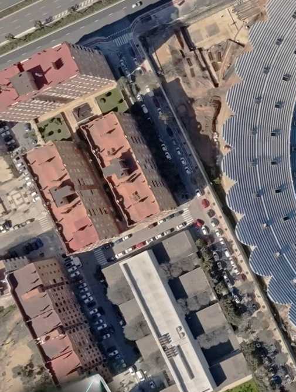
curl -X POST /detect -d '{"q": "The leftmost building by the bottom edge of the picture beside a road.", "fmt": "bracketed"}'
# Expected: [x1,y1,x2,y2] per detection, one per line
[6,257,111,392]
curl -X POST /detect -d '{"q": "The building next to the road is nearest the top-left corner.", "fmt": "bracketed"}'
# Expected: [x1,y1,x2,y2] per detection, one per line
[0,42,111,130]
